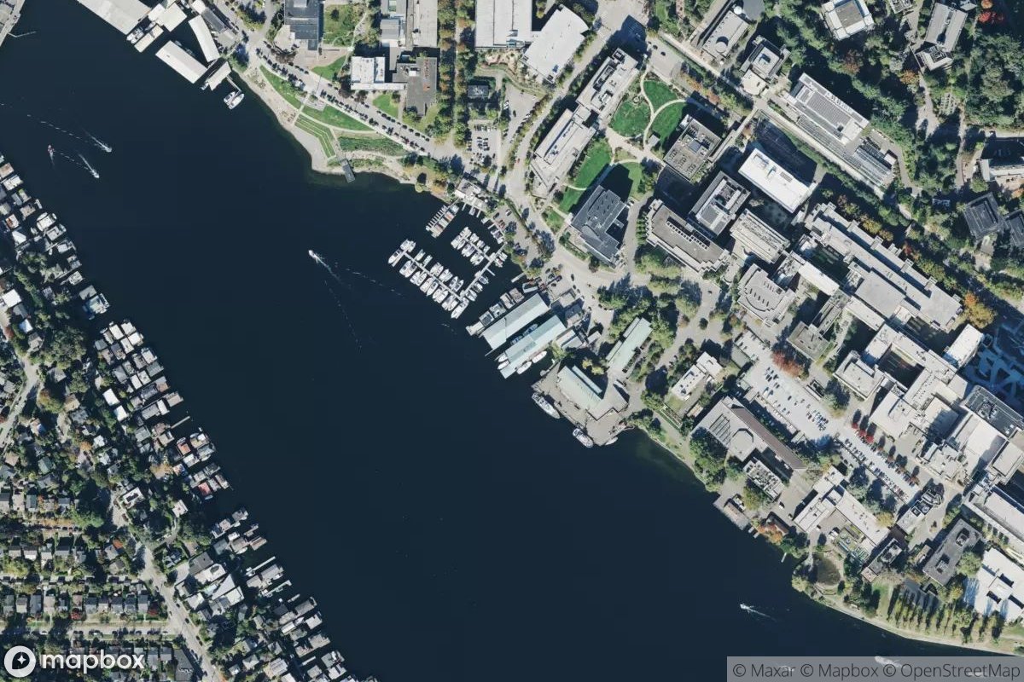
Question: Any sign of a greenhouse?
Yes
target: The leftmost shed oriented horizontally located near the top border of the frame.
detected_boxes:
[76,0,151,36]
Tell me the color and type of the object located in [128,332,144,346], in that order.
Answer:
white boat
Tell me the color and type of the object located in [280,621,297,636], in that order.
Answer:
white boat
